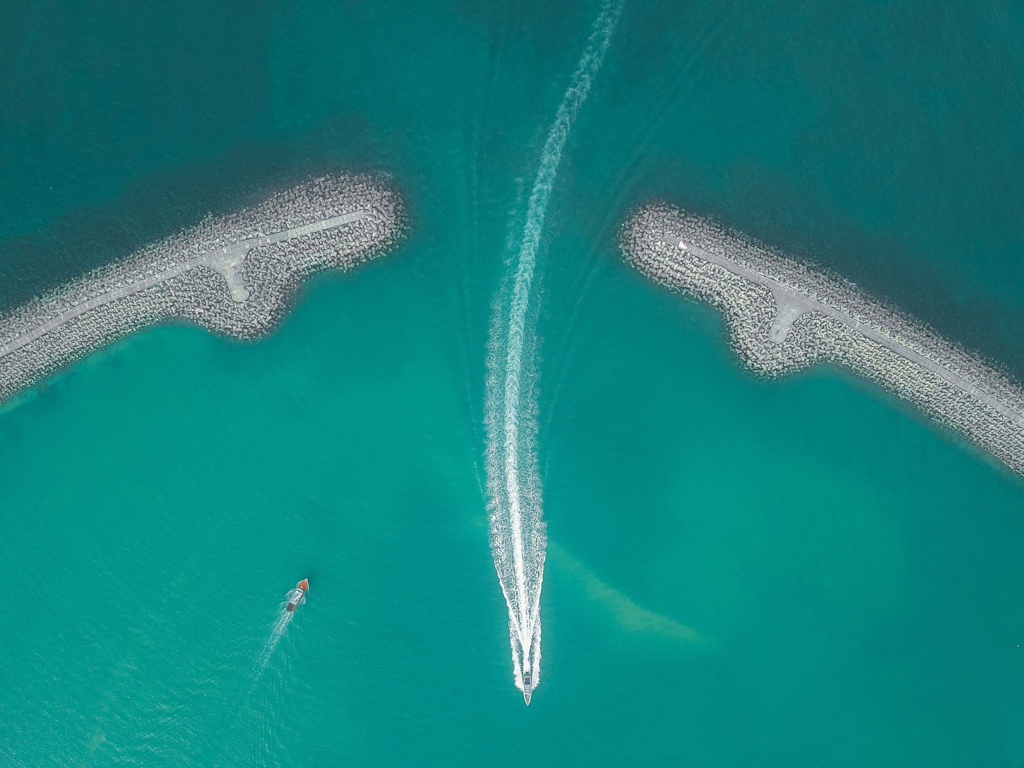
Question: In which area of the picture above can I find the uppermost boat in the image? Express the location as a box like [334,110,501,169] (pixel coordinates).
[287,578,309,613]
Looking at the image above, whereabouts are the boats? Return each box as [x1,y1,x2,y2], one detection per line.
[524,673,531,706]
[287,578,309,613]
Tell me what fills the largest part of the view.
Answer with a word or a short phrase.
water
